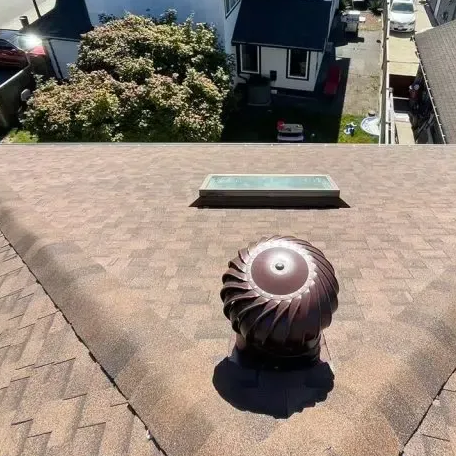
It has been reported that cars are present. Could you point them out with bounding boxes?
[0,26,45,68]
[381,0,418,33]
